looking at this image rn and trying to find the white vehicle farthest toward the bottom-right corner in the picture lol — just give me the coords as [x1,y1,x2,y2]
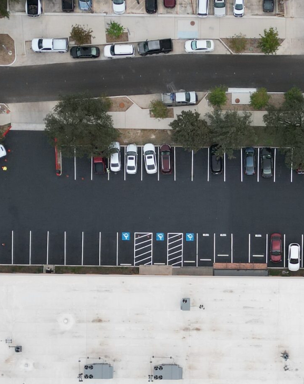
[287,243,302,271]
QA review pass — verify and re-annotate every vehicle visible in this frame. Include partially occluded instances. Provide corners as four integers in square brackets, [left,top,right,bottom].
[93,144,106,176]
[107,141,122,172]
[212,0,228,18]
[111,0,126,16]
[142,143,157,175]
[196,0,209,18]
[79,0,92,13]
[161,91,197,106]
[60,0,74,13]
[125,144,138,175]
[232,0,247,19]
[260,146,273,178]
[70,44,100,60]
[31,37,70,53]
[185,39,214,53]
[144,0,157,14]
[287,243,302,271]
[210,146,223,176]
[163,0,177,8]
[268,233,283,263]
[25,0,41,19]
[103,42,135,59]
[243,146,255,176]
[138,39,174,55]
[262,0,275,14]
[158,143,173,175]
[296,164,304,175]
